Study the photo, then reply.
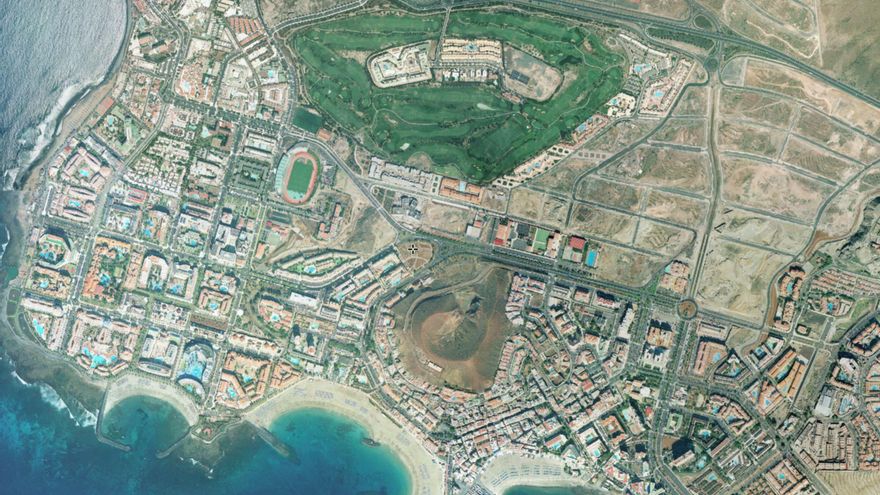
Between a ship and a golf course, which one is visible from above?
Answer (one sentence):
The image shows a golf course.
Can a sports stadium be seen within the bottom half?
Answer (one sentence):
No, I can find no sports stadium within the bottom half.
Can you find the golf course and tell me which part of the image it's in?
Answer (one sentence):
You can find the golf course in the top area of the picture.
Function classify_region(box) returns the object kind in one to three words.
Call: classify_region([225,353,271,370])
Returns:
building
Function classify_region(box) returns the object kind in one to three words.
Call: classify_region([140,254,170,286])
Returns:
building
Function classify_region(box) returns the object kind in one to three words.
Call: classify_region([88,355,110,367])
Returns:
swimming pool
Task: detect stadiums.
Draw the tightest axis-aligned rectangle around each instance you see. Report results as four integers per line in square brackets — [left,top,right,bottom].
[275,142,321,207]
